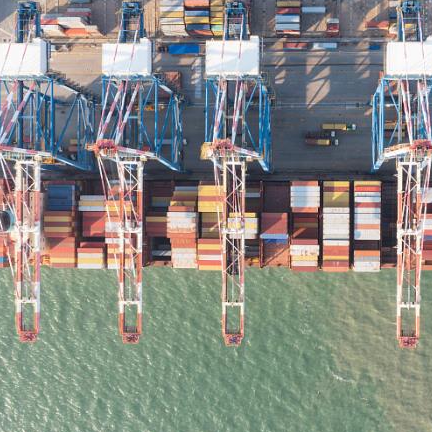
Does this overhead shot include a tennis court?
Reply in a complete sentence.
No, the frame has no tennis court in it.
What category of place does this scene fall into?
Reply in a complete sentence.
This image shows a port.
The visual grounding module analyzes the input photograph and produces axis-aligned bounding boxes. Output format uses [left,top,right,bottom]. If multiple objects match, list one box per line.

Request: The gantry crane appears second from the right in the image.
[204,1,273,345]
